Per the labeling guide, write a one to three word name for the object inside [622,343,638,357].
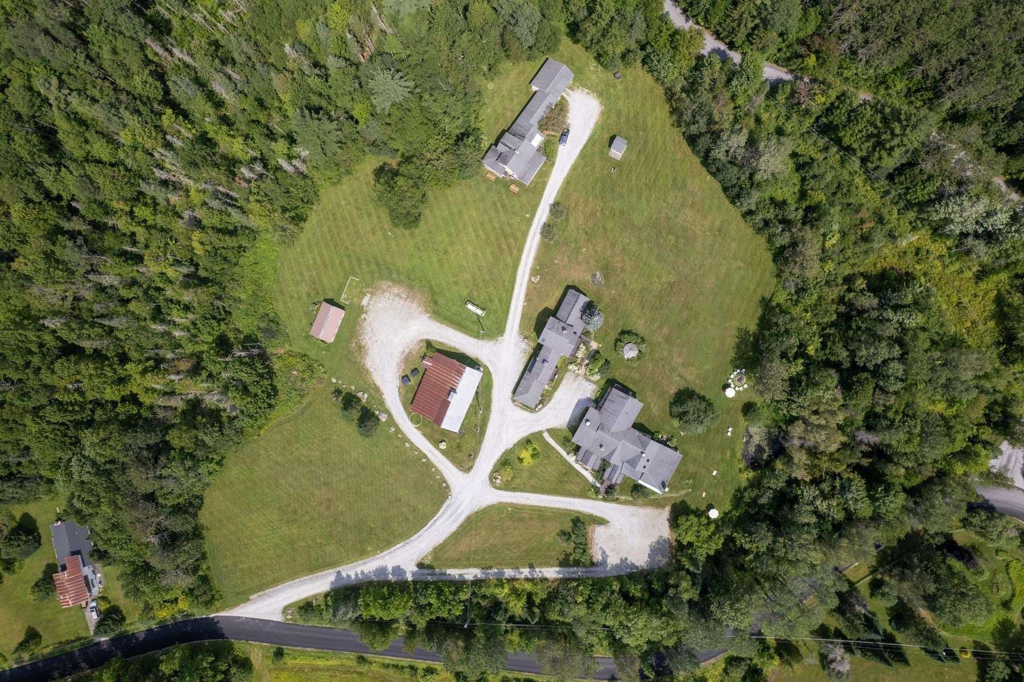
gazebo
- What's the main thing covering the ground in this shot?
trees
